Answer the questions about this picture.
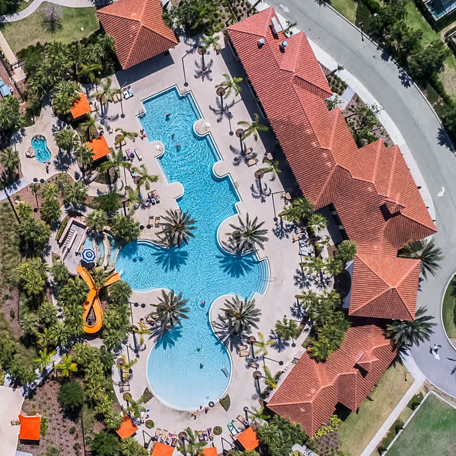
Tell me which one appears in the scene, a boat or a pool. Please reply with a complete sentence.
Visible in the photo is a pool.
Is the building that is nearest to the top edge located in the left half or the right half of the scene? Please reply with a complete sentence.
You can find the building that is nearest to the top edge on the left side of the picture.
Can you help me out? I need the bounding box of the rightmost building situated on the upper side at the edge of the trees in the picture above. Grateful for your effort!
[227,5,438,274]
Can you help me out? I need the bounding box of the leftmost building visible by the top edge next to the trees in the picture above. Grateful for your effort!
[96,0,179,71]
